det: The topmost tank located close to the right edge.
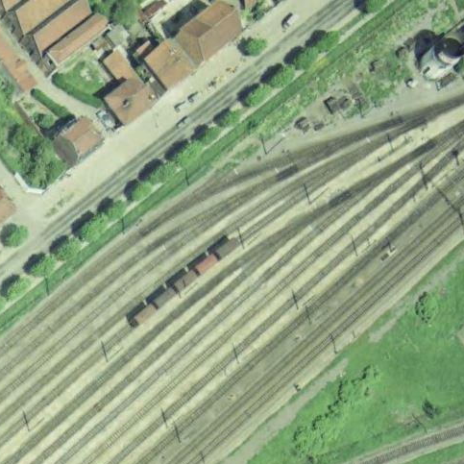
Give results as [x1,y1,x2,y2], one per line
[418,37,464,84]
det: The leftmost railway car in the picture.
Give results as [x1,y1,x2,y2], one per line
[132,302,158,325]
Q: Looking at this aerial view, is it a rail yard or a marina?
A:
rail yard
